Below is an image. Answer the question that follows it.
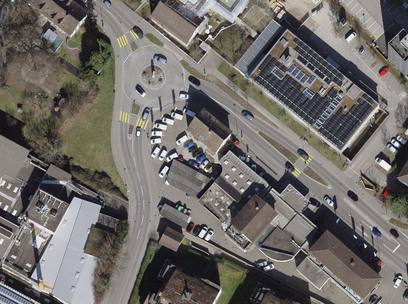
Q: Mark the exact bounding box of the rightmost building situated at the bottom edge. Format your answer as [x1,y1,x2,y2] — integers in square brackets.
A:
[308,230,382,304]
